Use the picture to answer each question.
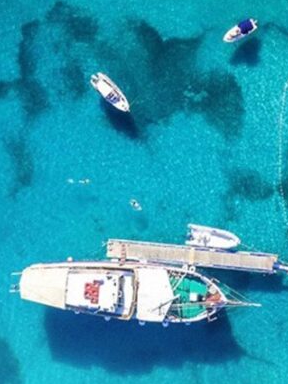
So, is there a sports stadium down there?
No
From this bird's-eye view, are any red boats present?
No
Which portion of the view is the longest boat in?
bottom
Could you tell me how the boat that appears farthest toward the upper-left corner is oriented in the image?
on a diagonal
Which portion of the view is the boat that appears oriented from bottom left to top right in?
top right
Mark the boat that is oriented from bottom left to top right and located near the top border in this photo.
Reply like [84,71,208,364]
[223,14,259,41]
